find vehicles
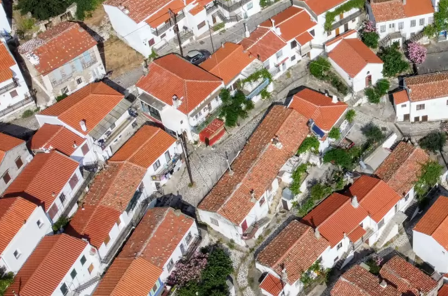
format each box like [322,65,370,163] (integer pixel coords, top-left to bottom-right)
[183,47,211,64]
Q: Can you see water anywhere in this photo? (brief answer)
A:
No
